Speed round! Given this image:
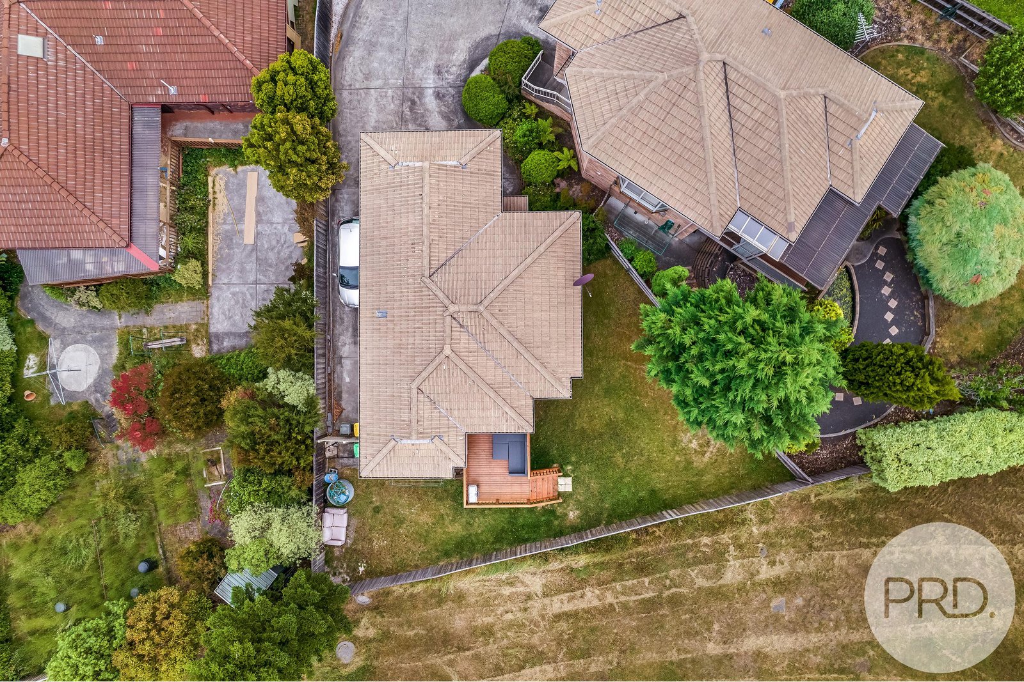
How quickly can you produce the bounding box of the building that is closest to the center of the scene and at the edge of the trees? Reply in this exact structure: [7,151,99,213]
[357,127,585,481]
